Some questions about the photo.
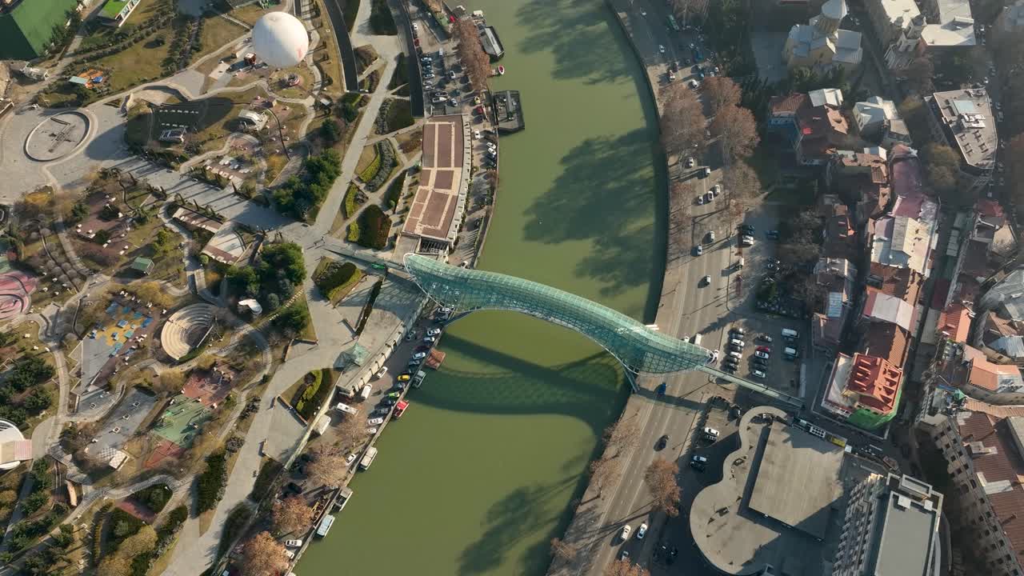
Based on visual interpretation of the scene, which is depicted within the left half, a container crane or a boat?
boat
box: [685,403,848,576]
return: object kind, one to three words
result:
building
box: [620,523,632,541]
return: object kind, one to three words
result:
vehicle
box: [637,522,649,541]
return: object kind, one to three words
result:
vehicle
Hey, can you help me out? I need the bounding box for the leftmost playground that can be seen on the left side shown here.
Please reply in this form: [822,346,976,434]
[0,253,40,319]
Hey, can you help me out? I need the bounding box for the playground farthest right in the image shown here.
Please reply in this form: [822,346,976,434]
[87,302,157,354]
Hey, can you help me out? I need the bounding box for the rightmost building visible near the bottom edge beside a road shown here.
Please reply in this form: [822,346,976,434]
[934,424,1024,576]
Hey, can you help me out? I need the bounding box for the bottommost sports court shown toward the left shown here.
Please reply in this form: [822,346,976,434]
[144,368,232,469]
